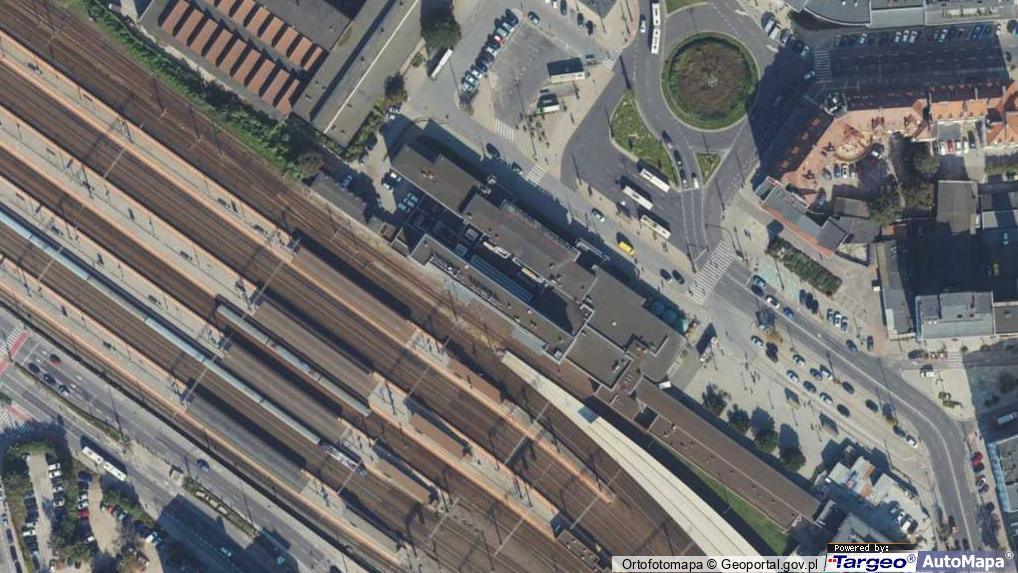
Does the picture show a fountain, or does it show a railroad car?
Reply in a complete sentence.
The one in the frame is a railroad car.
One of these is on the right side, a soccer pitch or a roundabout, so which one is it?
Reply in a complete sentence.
You can see a roundabout on the right side.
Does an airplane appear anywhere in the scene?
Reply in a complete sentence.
No, I can see no airplane in this picture.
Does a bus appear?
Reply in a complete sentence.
Yes, the photo shows a bus.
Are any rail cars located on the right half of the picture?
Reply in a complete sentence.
No, I can find no rail car on the right half of the picture.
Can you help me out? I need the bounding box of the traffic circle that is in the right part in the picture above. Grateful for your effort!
[661,32,761,130]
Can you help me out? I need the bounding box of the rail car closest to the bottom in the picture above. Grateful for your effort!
[324,445,365,477]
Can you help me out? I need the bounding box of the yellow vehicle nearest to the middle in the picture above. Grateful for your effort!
[619,243,636,256]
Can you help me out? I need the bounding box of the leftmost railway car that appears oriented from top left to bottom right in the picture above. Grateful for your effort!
[0,208,34,238]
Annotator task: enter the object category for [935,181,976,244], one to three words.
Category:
building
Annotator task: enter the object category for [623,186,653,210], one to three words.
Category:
bus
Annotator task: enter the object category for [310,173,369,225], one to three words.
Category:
shed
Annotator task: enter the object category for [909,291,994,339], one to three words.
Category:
building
